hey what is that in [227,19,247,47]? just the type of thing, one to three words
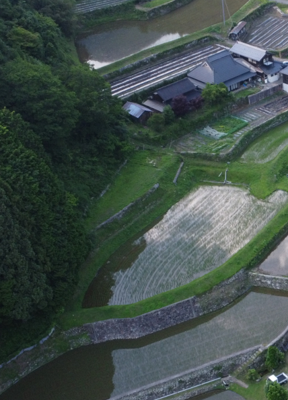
shed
